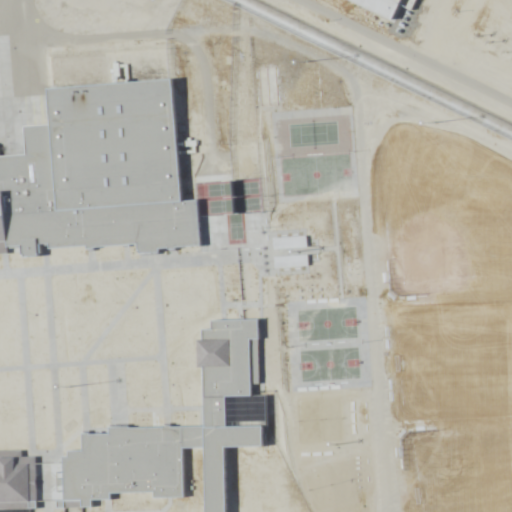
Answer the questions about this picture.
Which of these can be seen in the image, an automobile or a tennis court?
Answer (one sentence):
There is a tennis court in the scene.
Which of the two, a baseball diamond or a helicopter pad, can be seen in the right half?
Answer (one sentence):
There is a baseball diamond in the right half.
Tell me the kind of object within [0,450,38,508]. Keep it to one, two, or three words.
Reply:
building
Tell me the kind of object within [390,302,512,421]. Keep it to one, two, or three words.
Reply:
sports field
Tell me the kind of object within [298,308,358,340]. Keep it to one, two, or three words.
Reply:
basketball court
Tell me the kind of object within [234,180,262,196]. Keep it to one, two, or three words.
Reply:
sports court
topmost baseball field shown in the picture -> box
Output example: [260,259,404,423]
[370,125,512,306]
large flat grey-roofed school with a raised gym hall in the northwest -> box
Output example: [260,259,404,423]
[0,80,202,256]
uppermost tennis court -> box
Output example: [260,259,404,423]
[278,114,352,160]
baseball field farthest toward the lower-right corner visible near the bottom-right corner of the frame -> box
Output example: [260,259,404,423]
[404,419,512,512]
